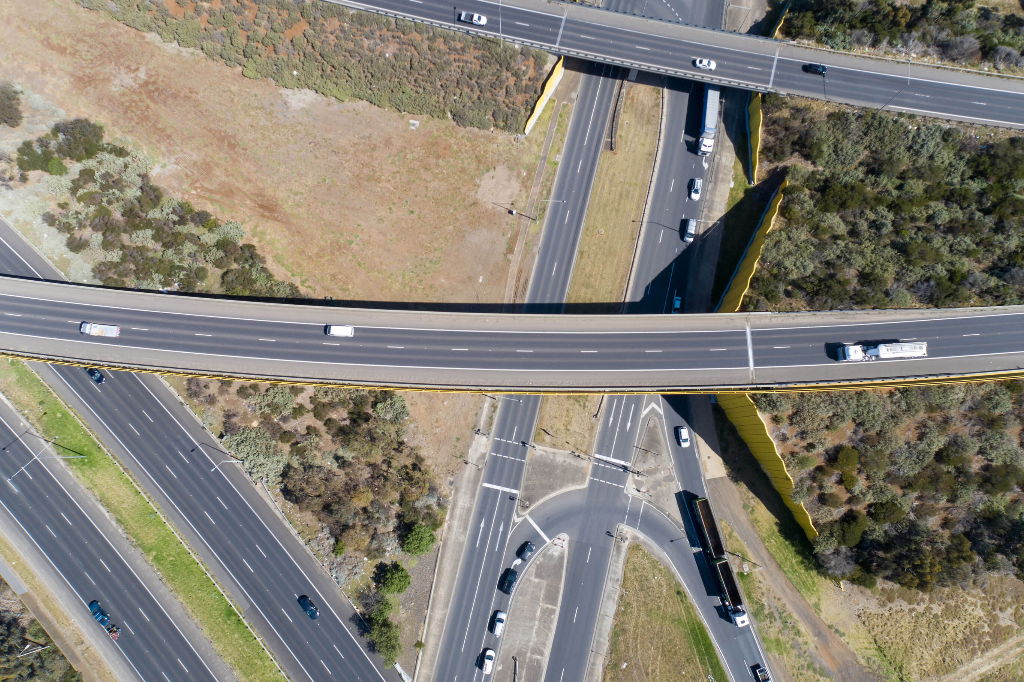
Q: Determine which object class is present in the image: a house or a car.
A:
car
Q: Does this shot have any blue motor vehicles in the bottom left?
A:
Yes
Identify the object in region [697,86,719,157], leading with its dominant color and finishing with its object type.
white truck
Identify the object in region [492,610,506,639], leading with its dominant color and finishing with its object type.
white car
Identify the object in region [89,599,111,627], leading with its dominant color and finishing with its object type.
blue truck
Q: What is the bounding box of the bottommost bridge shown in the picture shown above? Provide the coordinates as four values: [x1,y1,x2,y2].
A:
[0,277,759,396]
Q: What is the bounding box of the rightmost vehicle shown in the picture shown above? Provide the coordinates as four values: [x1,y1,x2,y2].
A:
[835,343,929,362]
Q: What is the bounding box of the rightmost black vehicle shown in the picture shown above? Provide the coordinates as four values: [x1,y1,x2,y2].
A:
[806,63,828,75]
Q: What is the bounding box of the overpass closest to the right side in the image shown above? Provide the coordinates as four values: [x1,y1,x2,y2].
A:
[556,0,781,96]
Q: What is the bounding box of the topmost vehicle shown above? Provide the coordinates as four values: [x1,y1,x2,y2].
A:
[461,12,487,27]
